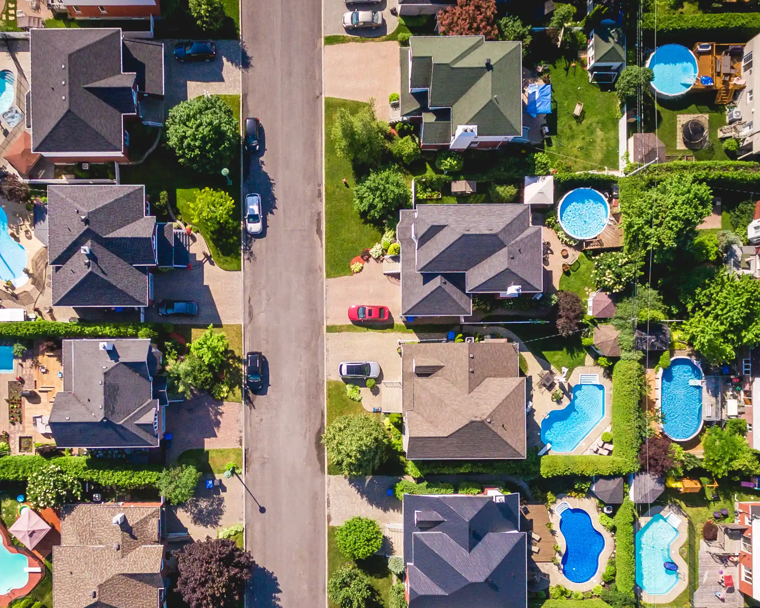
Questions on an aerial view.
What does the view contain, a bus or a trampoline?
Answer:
trampoline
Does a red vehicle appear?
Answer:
Yes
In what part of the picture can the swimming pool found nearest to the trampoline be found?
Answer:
top right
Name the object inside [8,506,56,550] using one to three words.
gazebo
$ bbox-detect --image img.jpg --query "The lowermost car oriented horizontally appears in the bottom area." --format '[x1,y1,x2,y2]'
[338,362,380,378]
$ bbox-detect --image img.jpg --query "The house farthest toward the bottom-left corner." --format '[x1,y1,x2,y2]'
[53,505,169,608]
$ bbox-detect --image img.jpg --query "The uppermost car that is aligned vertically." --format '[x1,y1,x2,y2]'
[243,118,261,153]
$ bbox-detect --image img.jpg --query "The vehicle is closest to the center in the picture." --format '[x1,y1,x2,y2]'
[348,305,390,323]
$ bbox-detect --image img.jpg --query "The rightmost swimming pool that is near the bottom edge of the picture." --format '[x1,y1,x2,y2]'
[632,510,687,598]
